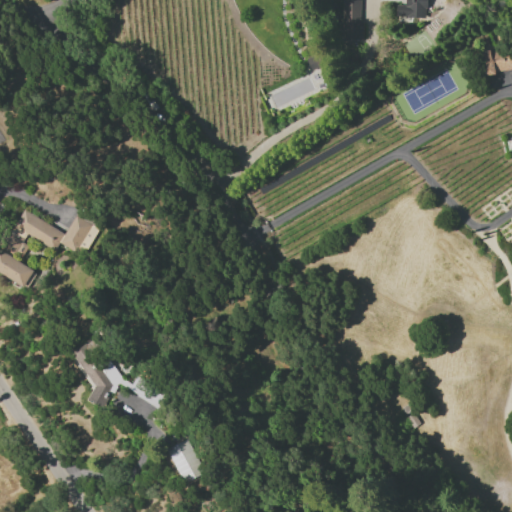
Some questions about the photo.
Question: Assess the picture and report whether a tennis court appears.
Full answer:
Yes, there's a tennis court here.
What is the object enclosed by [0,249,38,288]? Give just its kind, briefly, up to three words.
house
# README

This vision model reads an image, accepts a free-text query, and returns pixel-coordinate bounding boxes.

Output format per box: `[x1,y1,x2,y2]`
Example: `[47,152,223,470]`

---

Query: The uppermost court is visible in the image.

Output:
[406,30,438,53]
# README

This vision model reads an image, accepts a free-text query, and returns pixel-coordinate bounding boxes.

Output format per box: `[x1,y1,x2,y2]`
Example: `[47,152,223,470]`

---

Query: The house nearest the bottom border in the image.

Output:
[170,444,203,480]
